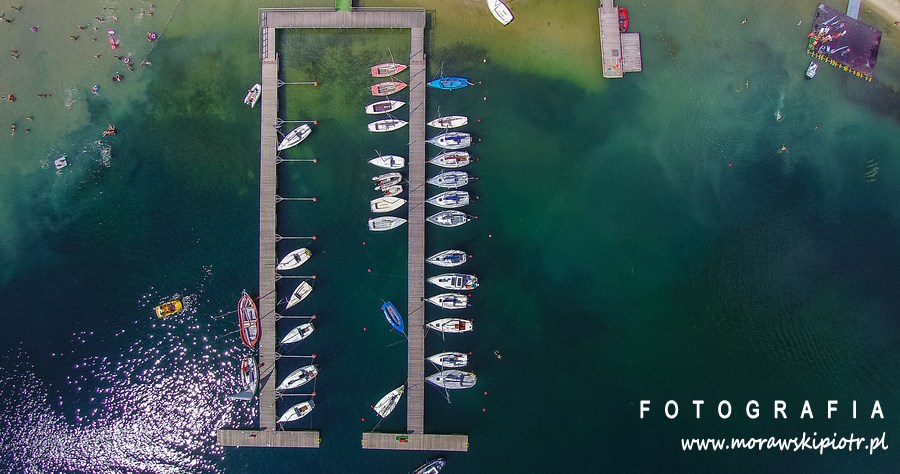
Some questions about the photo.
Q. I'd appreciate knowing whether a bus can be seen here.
No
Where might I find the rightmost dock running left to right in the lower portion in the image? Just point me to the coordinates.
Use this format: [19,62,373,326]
[360,432,469,452]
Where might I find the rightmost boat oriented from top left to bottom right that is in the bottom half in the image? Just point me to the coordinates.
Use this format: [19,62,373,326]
[382,301,408,339]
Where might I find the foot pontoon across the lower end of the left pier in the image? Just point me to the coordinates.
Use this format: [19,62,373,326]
[217,429,321,448]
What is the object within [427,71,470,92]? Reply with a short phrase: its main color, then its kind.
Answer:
blue boat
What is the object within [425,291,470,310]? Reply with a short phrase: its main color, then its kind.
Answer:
white boat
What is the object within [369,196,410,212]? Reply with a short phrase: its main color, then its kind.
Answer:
white boat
